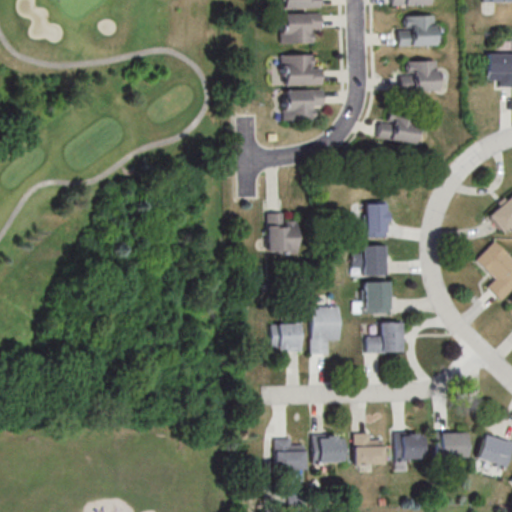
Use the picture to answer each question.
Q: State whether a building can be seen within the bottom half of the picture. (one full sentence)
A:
Yes, there is a building within the bottom half of the picture.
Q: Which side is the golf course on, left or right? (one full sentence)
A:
You can find the golf course on the left side of the picture.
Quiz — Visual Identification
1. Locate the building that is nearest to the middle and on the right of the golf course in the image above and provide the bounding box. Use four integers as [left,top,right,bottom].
[266,212,302,256]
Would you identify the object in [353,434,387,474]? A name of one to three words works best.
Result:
house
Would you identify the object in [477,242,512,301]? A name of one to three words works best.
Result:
house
